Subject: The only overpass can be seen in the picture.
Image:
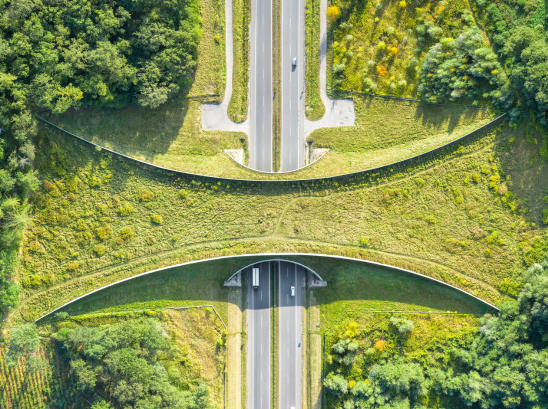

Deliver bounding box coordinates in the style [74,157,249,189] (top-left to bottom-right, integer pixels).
[35,113,506,323]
